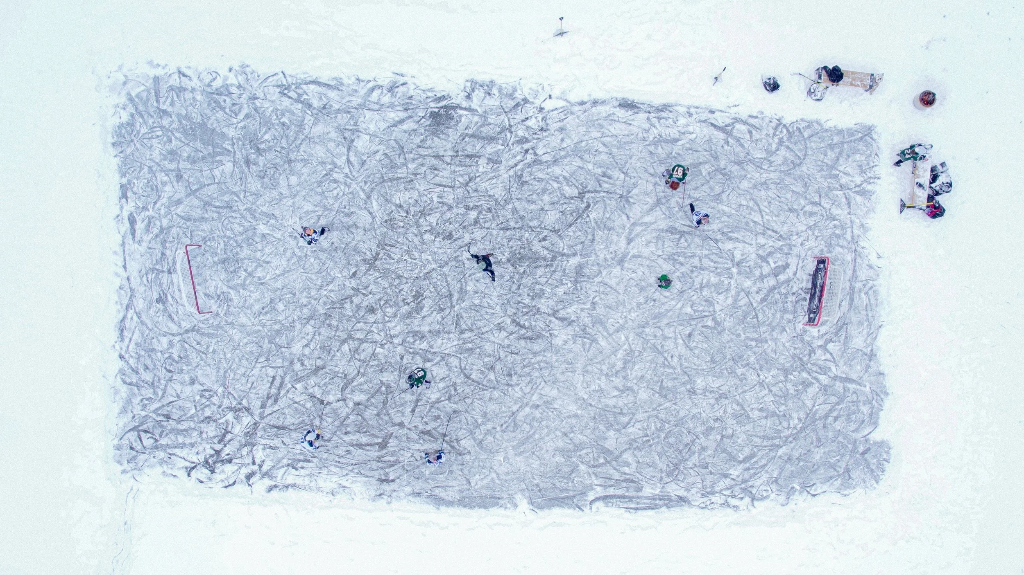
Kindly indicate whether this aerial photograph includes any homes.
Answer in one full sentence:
No, I find no home anywhere in the image.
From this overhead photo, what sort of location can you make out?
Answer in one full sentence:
The picture captures a sports ground.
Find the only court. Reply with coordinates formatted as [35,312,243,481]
[101,61,897,521]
